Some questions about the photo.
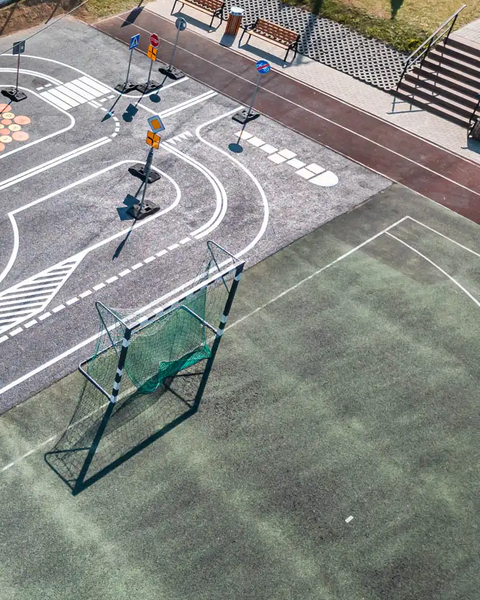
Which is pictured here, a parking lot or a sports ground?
sports ground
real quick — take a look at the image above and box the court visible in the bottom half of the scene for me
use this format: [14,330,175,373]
[0,185,480,600]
